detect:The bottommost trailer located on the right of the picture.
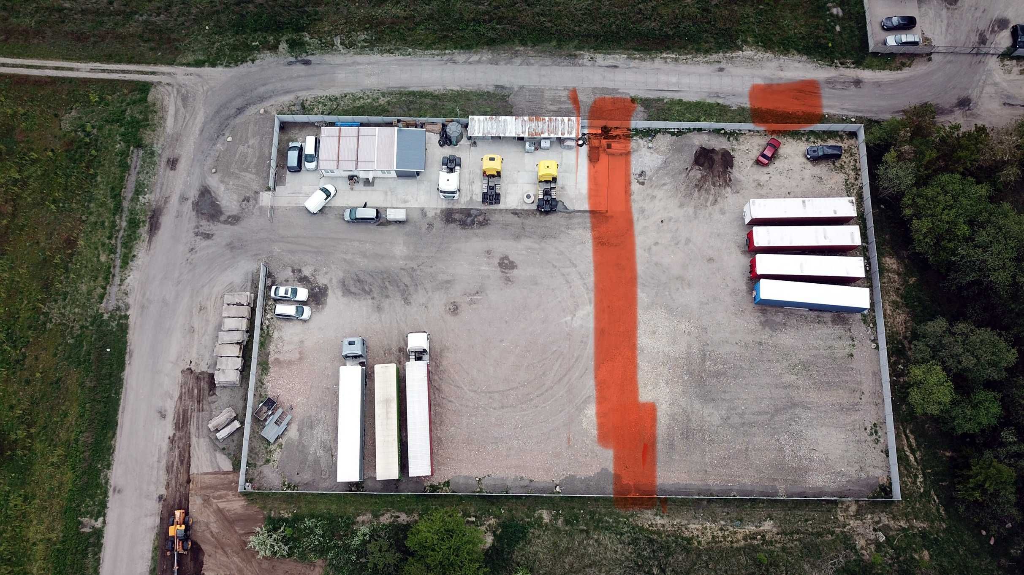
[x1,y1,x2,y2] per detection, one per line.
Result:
[753,279,870,314]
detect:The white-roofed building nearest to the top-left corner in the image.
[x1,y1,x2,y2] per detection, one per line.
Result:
[319,126,427,187]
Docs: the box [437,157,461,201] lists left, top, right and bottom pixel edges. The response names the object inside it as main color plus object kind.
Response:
white truck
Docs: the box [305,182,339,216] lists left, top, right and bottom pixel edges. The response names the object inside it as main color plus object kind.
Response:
white van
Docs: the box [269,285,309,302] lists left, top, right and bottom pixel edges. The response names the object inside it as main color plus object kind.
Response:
white car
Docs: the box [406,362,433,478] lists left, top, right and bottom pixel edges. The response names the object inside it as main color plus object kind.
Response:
white trailer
